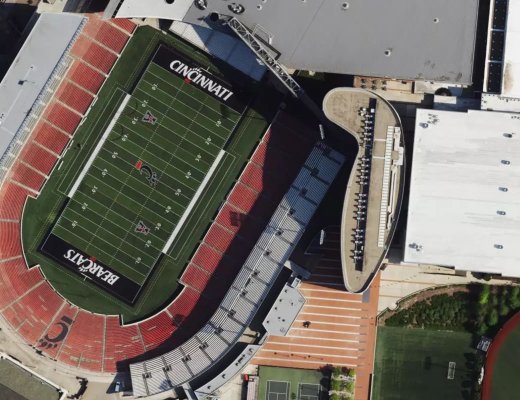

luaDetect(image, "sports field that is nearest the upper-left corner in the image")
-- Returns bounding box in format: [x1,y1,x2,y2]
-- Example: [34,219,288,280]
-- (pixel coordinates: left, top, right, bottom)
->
[22,26,281,327]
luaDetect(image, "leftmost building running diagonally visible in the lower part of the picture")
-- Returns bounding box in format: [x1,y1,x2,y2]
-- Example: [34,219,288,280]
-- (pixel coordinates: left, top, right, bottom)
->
[194,344,261,395]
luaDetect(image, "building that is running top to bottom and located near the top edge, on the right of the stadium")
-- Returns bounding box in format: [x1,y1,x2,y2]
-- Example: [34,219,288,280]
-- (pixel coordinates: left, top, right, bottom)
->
[481,0,520,96]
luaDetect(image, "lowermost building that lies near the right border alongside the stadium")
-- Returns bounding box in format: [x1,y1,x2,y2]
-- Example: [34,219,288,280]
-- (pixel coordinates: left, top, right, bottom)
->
[402,109,520,278]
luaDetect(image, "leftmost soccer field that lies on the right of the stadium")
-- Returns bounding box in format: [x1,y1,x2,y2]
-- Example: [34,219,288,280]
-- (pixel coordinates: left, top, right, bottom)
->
[373,328,484,400]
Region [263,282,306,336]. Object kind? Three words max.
building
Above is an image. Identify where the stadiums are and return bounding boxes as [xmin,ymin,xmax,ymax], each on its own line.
[0,2,347,398]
